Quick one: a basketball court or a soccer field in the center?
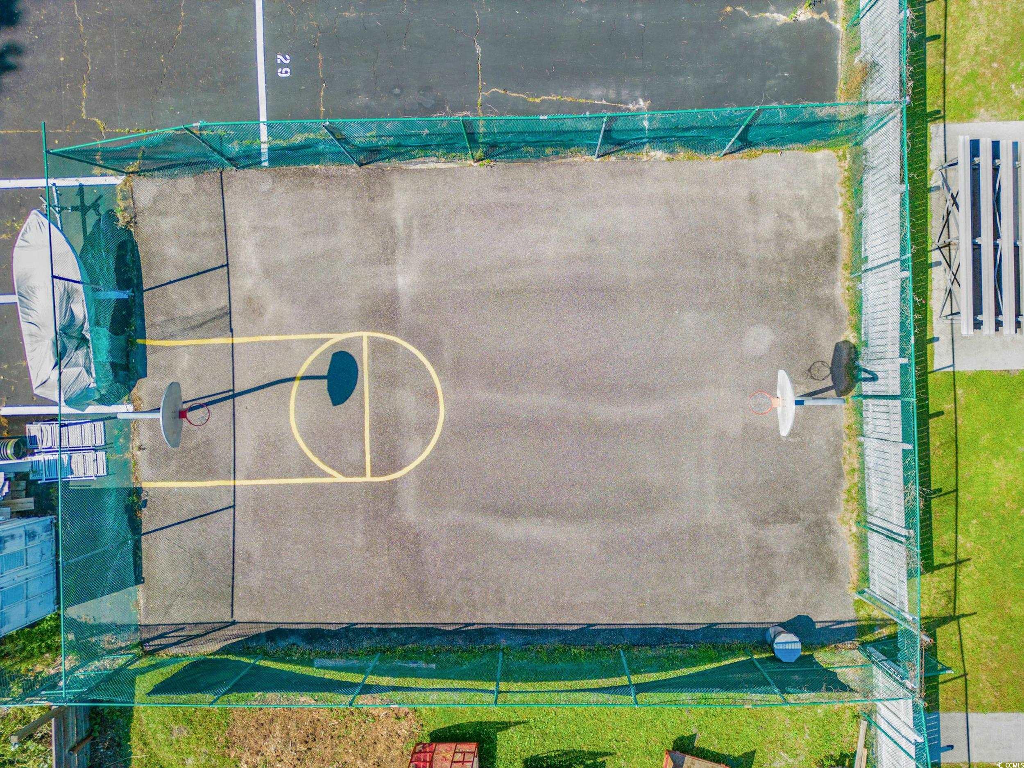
basketball court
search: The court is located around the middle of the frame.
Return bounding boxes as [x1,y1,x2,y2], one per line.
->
[133,151,857,655]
